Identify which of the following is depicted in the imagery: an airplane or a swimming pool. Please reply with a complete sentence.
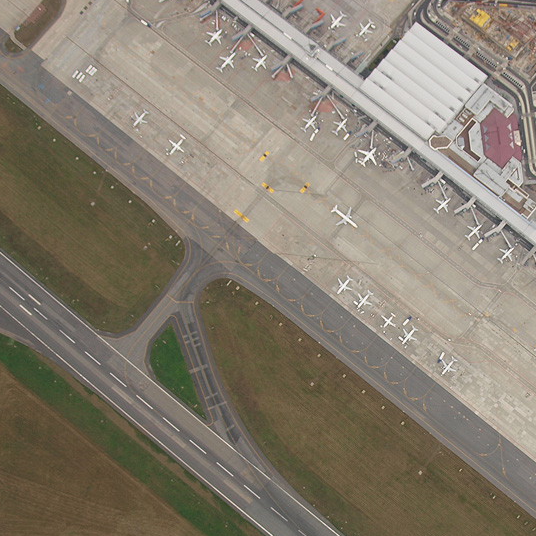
The image shows an airplane.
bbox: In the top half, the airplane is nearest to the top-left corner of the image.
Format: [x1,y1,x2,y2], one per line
[133,108,150,127]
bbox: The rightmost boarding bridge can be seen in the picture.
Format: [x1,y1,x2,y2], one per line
[521,246,536,265]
